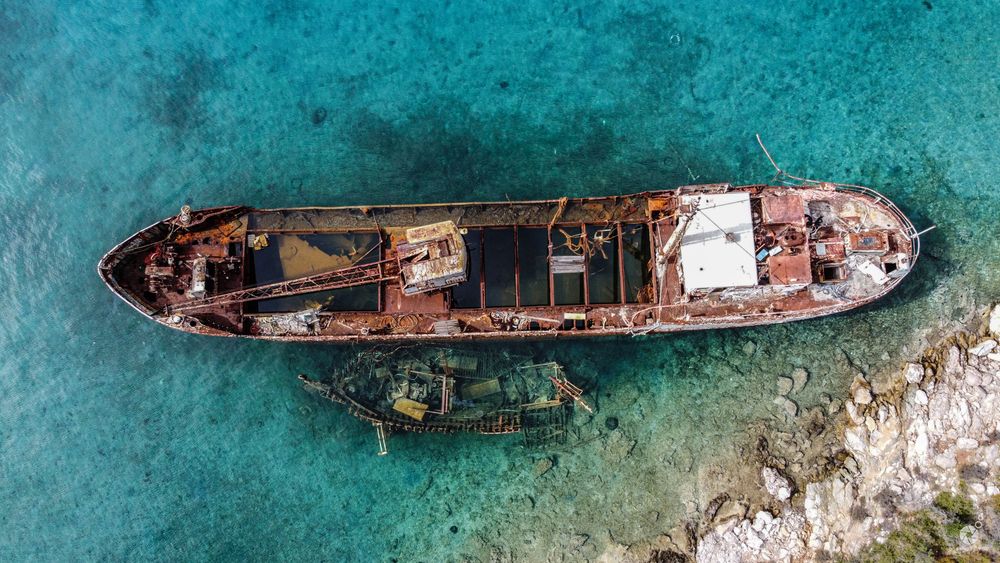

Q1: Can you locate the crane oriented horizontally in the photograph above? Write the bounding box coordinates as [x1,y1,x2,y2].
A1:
[162,225,475,316]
